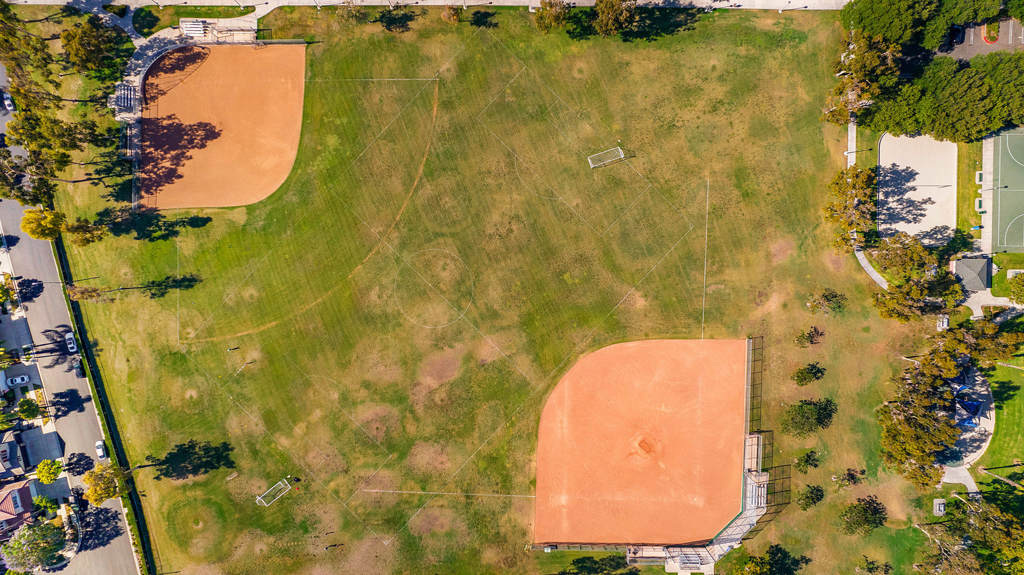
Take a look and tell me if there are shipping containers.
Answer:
No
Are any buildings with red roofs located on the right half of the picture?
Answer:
No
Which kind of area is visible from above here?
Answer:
sports ground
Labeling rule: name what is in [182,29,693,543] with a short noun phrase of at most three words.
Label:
soccer field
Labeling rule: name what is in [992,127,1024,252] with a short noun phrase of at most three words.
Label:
basketball court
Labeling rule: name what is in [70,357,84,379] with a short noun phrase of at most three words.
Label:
car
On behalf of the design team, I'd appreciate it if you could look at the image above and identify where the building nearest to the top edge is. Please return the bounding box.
[950,259,987,290]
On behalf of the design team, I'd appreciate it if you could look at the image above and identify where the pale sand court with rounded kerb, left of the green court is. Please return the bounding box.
[877,130,959,247]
